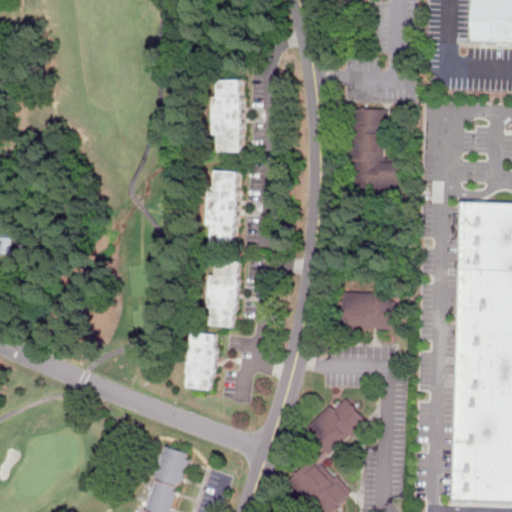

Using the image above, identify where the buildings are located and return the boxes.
[469,0,512,42]
[0,238,12,255]
[344,292,394,330]
[310,399,365,456]
[205,262,243,328]
[210,81,248,153]
[452,204,512,502]
[352,108,400,187]
[204,170,244,240]
[184,334,220,392]
[292,464,352,512]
